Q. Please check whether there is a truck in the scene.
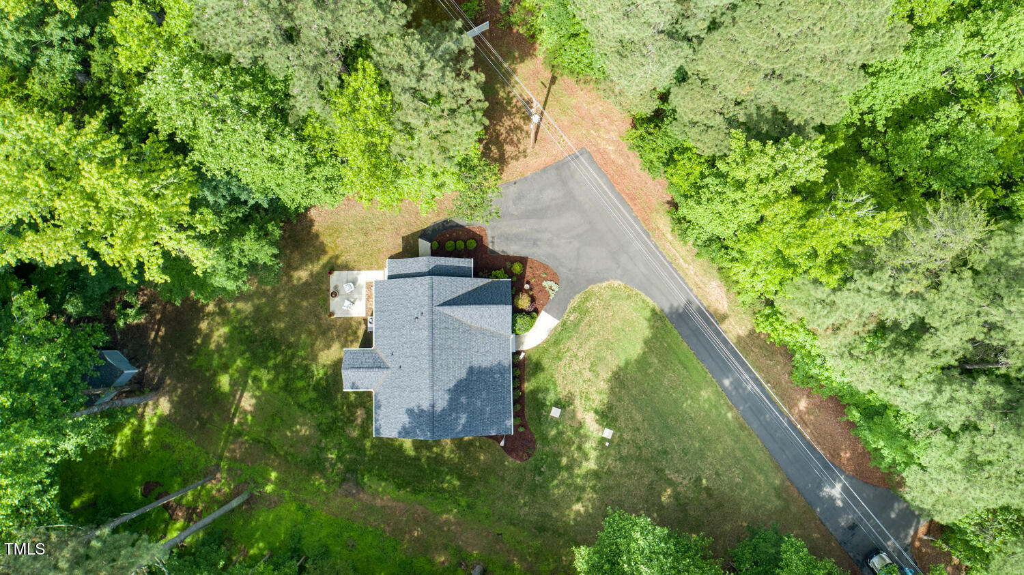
No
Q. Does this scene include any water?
No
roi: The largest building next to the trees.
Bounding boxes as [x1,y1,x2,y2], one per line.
[340,256,517,439]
